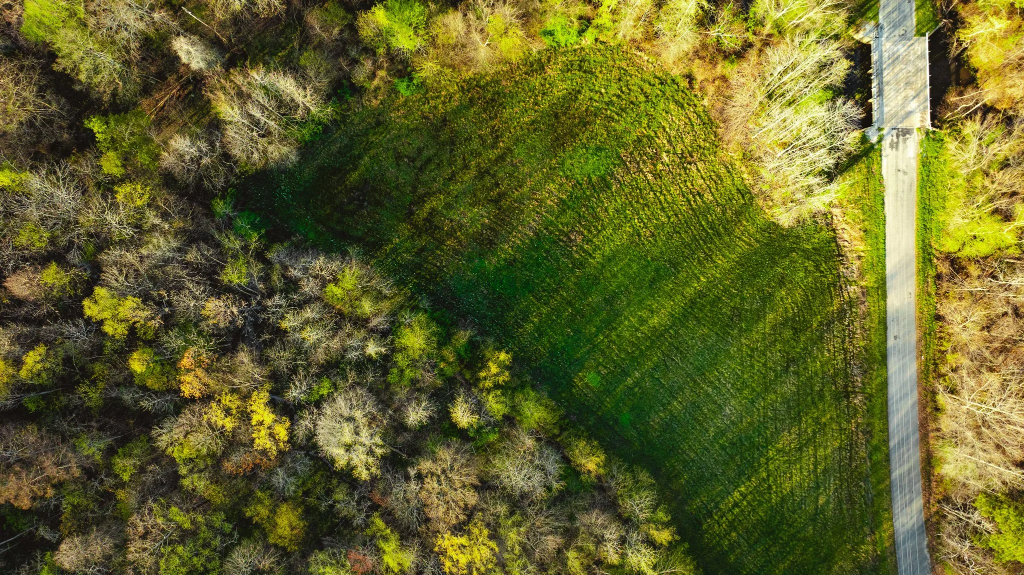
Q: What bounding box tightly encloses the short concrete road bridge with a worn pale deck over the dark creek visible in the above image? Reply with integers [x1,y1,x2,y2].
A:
[853,22,943,133]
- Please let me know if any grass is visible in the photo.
Yes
